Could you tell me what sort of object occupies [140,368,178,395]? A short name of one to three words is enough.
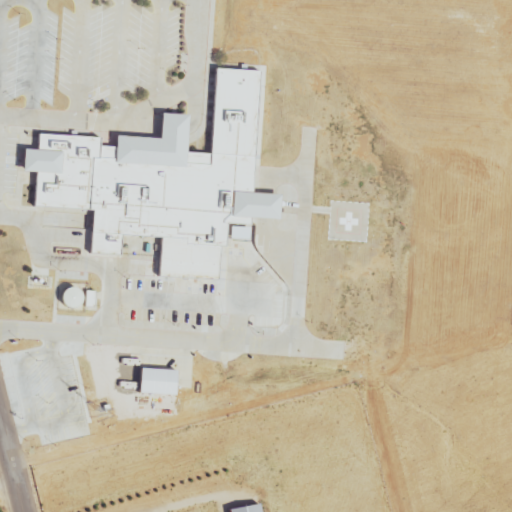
building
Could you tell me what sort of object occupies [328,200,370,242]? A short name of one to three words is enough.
helipad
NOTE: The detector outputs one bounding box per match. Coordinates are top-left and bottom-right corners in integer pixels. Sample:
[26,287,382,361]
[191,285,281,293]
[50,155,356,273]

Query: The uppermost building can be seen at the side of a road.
[24,64,282,278]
